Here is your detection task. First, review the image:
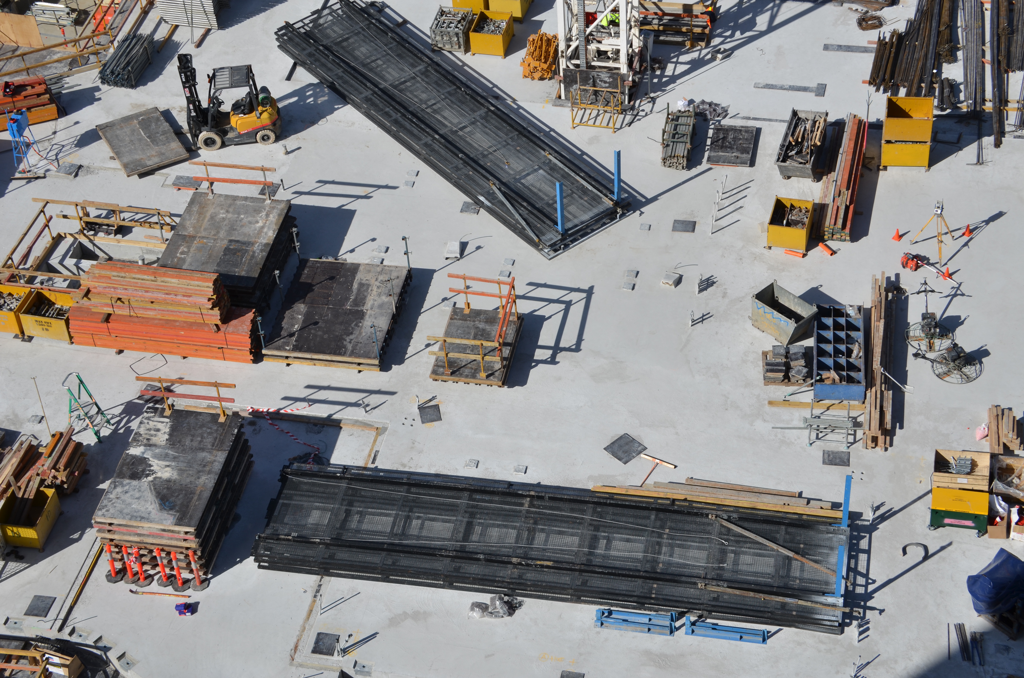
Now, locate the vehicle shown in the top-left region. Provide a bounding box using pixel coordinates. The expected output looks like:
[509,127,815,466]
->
[175,39,281,153]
